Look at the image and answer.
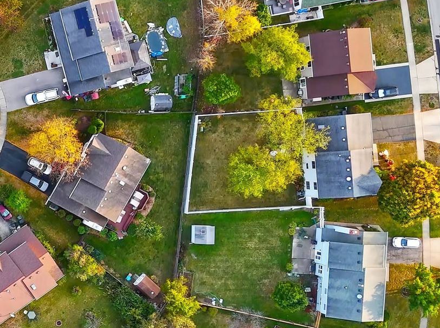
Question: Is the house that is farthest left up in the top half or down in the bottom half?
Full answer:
Seen from above, the house that is farthest left lies in the bottom half of the view.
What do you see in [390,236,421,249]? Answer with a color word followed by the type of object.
white vehicle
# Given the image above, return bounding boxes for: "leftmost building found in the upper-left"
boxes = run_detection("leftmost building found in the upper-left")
[51,0,135,95]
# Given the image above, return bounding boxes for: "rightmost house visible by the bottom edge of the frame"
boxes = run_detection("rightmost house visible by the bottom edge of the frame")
[312,225,387,323]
